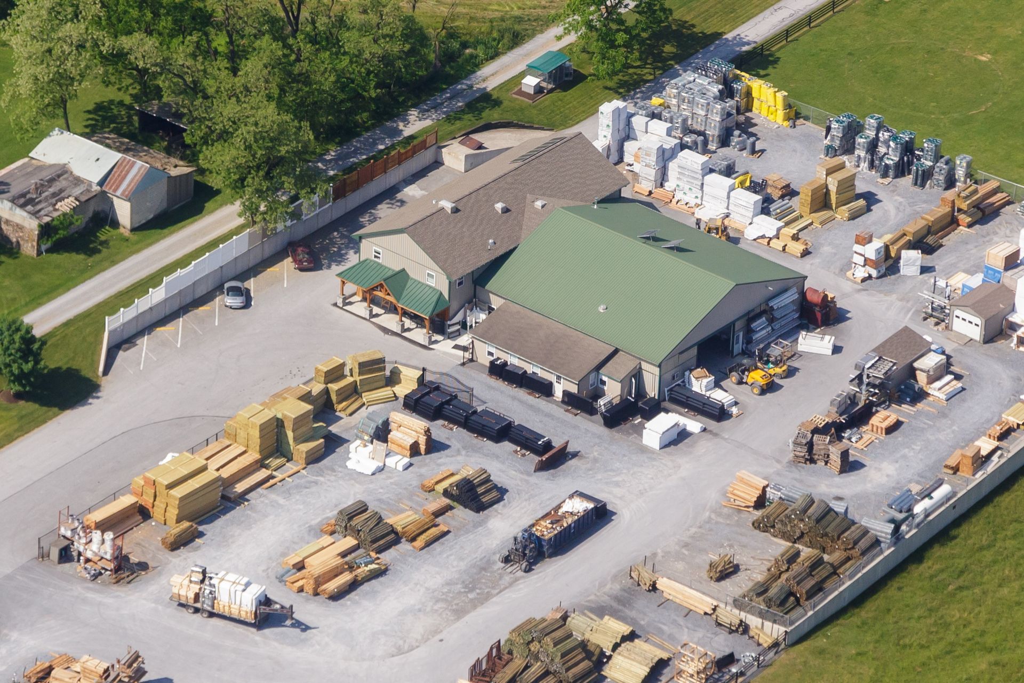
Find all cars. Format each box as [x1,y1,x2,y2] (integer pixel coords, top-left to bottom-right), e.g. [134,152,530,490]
[287,241,315,272]
[223,281,246,309]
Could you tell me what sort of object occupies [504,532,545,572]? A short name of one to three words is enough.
work vehicle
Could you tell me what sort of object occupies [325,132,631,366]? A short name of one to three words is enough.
barn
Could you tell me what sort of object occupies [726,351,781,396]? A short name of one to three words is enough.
work vehicle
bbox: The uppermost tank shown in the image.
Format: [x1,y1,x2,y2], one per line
[814,279,844,327]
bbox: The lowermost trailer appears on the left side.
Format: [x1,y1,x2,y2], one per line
[170,594,297,629]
